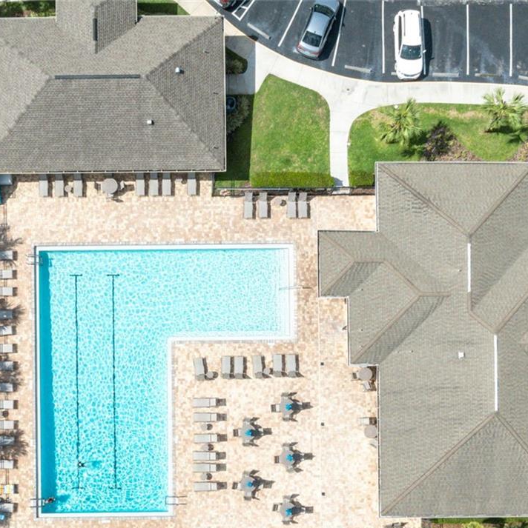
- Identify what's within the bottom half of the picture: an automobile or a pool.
pool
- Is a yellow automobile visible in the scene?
No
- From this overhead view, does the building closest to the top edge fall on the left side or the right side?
left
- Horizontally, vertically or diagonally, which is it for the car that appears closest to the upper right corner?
vertically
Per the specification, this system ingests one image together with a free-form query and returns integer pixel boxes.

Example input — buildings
[0,0,226,176]
[316,161,528,518]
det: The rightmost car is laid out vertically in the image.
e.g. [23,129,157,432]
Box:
[391,9,427,83]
